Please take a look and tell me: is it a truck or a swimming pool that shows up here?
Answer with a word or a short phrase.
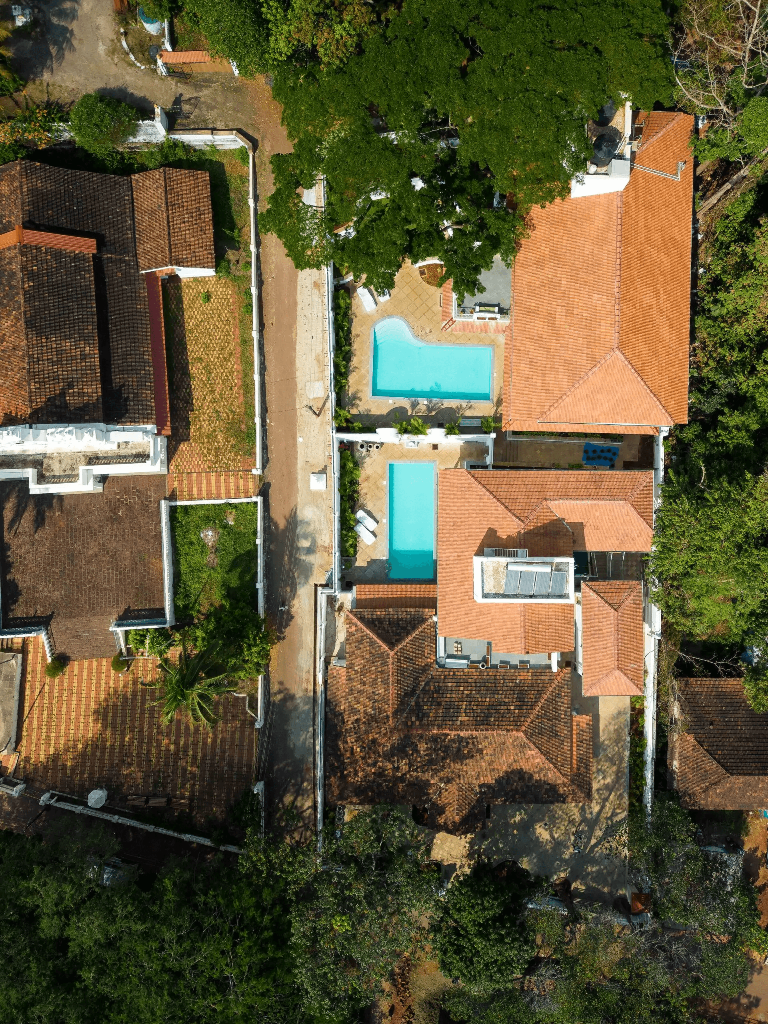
swimming pool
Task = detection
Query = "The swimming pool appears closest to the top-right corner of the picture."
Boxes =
[368,314,496,405]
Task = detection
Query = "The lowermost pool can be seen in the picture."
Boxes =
[385,460,437,582]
